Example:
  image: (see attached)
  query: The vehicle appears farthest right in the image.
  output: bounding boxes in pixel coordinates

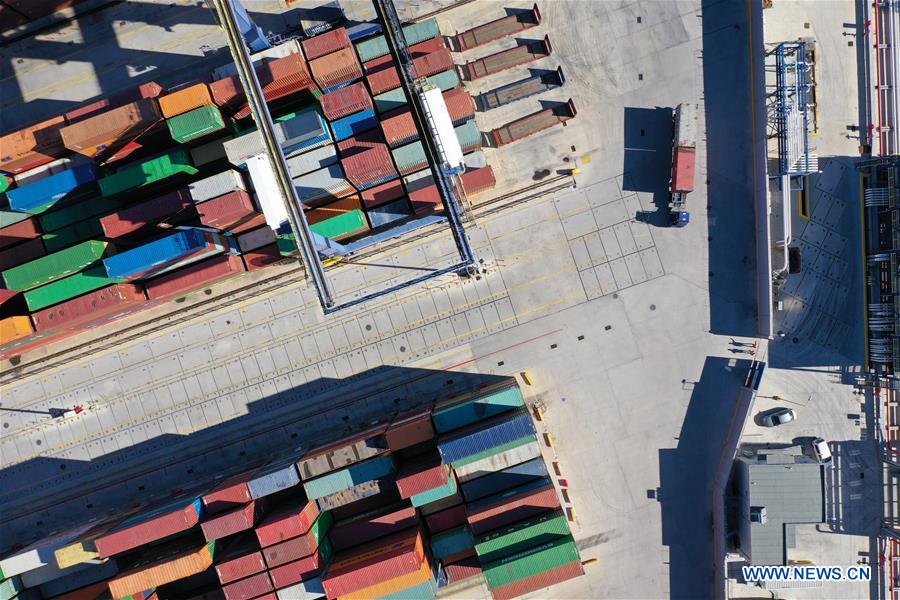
[808,435,834,466]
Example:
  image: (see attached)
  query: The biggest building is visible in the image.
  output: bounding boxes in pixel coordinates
[731,444,823,566]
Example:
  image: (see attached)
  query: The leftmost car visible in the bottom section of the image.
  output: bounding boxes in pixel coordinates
[764,407,797,425]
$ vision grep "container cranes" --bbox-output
[210,0,485,314]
